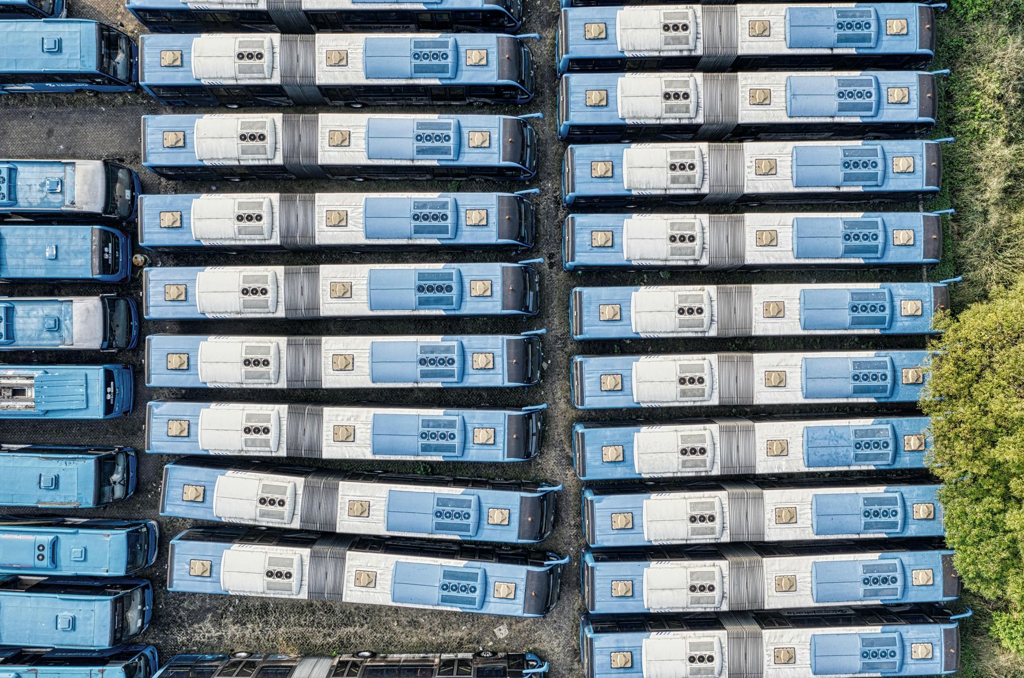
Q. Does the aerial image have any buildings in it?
No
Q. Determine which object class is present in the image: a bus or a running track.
bus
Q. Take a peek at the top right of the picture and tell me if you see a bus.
Yes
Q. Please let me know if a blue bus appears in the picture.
Yes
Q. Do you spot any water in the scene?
No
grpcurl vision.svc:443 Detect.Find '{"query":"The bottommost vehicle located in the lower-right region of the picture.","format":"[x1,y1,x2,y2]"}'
[576,601,980,678]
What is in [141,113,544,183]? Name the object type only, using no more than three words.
bus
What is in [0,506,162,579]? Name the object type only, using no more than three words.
bus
